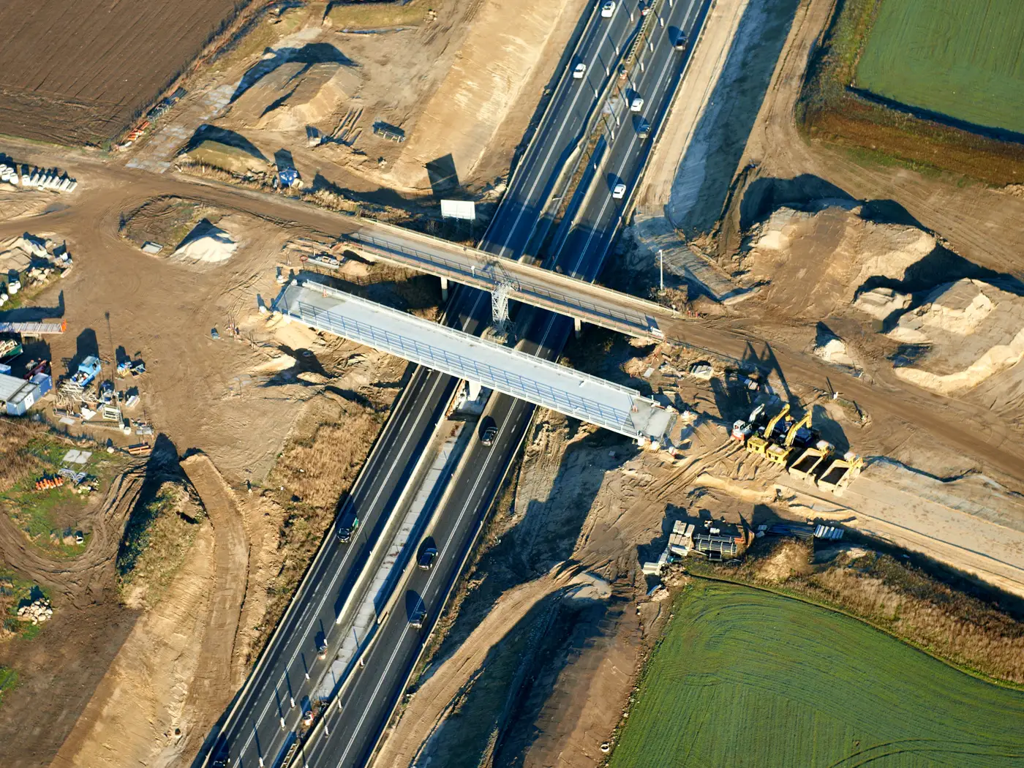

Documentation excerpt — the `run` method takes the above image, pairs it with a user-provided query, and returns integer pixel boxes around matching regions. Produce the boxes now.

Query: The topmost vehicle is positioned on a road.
[602,2,615,18]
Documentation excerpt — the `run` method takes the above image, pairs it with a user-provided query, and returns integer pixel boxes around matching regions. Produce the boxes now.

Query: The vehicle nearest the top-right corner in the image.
[673,35,687,52]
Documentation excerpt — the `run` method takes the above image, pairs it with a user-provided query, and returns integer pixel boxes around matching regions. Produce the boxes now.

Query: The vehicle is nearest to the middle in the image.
[479,426,497,448]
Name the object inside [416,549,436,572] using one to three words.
car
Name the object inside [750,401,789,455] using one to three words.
work vehicle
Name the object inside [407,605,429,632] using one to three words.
vehicle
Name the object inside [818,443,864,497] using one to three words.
truck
